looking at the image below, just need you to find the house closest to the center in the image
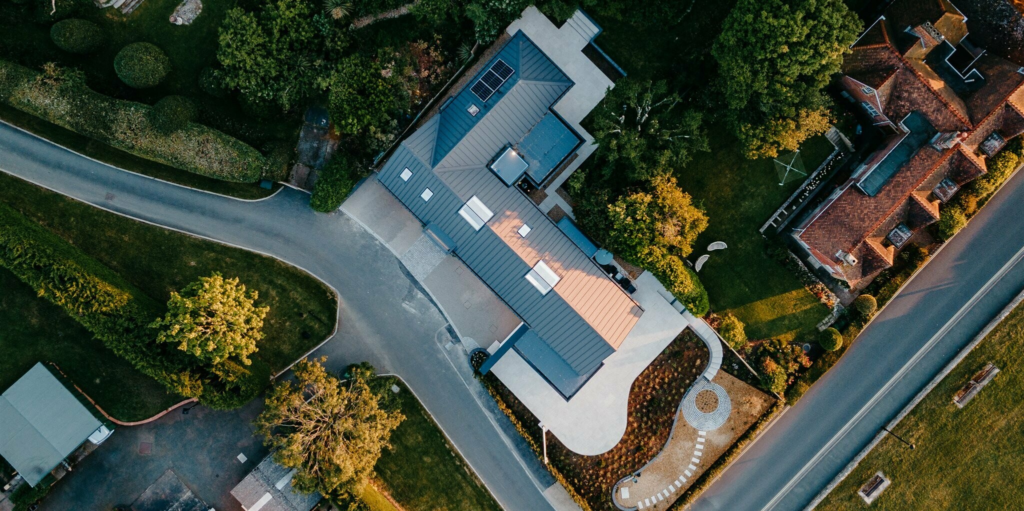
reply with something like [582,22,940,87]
[376,28,646,402]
